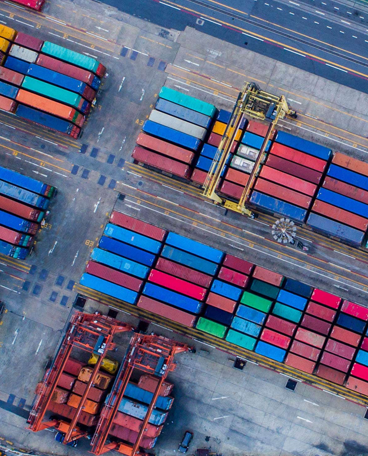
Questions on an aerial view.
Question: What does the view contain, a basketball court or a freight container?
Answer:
freight container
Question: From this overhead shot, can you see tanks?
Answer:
No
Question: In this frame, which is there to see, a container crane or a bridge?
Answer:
container crane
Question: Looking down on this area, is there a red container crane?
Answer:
Yes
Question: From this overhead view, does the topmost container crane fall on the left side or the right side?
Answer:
right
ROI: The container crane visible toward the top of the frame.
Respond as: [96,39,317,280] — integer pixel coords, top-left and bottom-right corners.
[196,82,298,219]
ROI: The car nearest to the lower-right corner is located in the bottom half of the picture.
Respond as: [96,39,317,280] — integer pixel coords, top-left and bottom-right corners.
[179,430,193,455]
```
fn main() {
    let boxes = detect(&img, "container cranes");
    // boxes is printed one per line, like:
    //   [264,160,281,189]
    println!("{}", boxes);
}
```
[16,309,142,451]
[79,328,199,456]
[196,82,298,219]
